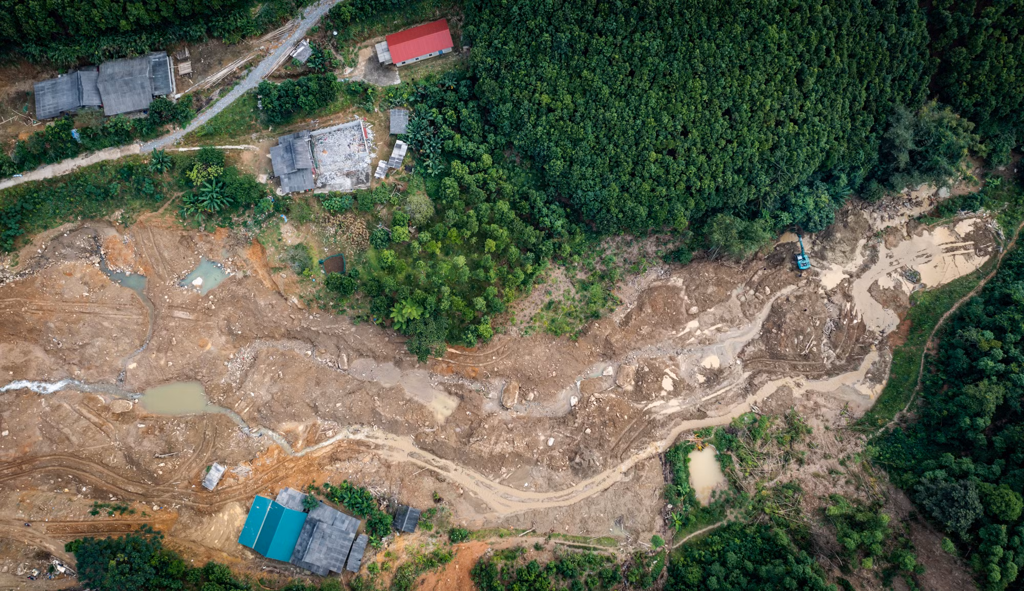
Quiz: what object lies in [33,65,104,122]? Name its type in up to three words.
house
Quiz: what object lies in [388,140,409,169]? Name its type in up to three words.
shed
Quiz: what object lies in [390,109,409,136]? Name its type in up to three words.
shed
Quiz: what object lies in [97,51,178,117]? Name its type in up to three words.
house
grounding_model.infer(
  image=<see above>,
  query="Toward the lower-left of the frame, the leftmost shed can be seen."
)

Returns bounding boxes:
[202,462,228,491]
